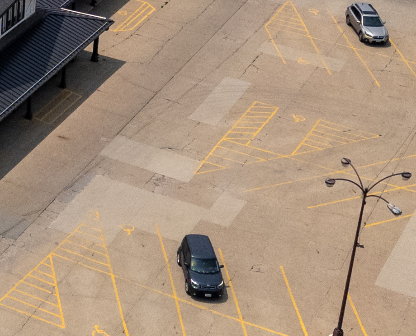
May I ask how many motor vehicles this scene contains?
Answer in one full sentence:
My tally gives 2 motor vehicles in this view.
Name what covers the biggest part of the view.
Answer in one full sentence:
For the most part, this view shows paved ground.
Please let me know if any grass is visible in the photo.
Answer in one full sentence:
No, there's no grass in this view.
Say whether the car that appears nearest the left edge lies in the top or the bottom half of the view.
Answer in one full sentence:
The car that appears nearest the left edge is in the bottom half of the image.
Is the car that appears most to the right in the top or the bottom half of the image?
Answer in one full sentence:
Seen from above, the car that appears most to the right lies in the top half of the view.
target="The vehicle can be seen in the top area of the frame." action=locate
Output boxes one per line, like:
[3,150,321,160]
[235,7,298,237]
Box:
[346,2,388,44]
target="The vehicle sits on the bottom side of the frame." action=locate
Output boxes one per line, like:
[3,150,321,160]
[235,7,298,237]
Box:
[178,234,226,301]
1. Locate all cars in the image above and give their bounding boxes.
[346,2,388,44]
[178,234,226,301]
